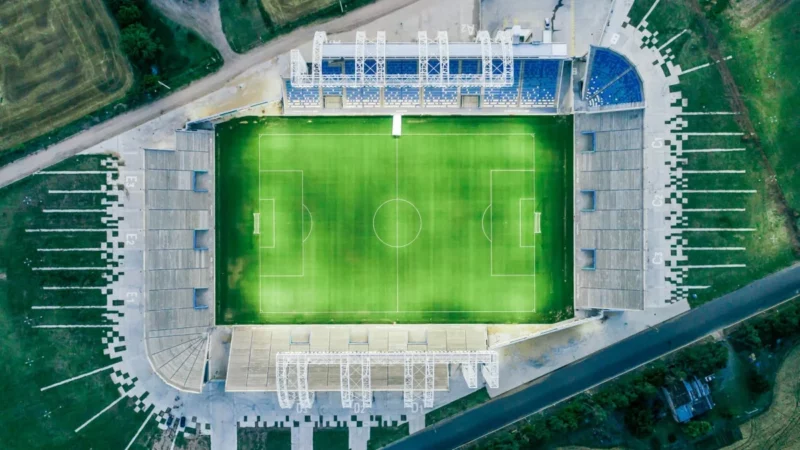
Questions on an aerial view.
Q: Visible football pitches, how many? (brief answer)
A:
1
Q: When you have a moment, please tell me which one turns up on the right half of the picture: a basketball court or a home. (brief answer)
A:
home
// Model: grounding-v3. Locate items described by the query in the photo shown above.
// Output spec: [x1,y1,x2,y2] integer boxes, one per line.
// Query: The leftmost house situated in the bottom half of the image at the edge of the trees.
[662,376,714,423]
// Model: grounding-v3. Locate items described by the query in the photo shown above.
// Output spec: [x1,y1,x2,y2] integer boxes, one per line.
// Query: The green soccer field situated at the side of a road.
[216,114,574,324]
